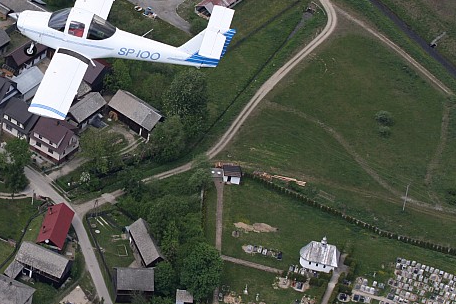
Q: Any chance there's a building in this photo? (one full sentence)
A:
Yes, I can see a building in this picture.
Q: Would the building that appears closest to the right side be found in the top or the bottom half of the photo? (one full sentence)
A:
The building that appears closest to the right side sits in the bottom half of the picture.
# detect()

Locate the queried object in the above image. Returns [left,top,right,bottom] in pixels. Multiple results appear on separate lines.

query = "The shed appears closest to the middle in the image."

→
[222,166,240,184]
